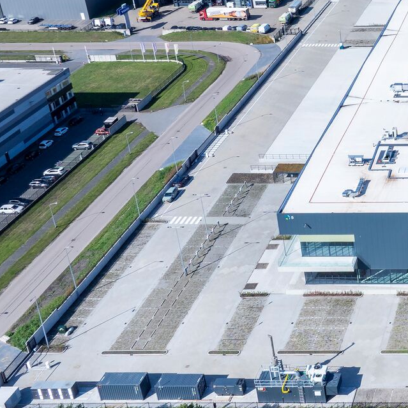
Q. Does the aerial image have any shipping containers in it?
Yes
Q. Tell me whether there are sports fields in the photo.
No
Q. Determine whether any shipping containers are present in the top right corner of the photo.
No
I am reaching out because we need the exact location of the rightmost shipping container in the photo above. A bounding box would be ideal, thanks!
[156,373,210,400]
